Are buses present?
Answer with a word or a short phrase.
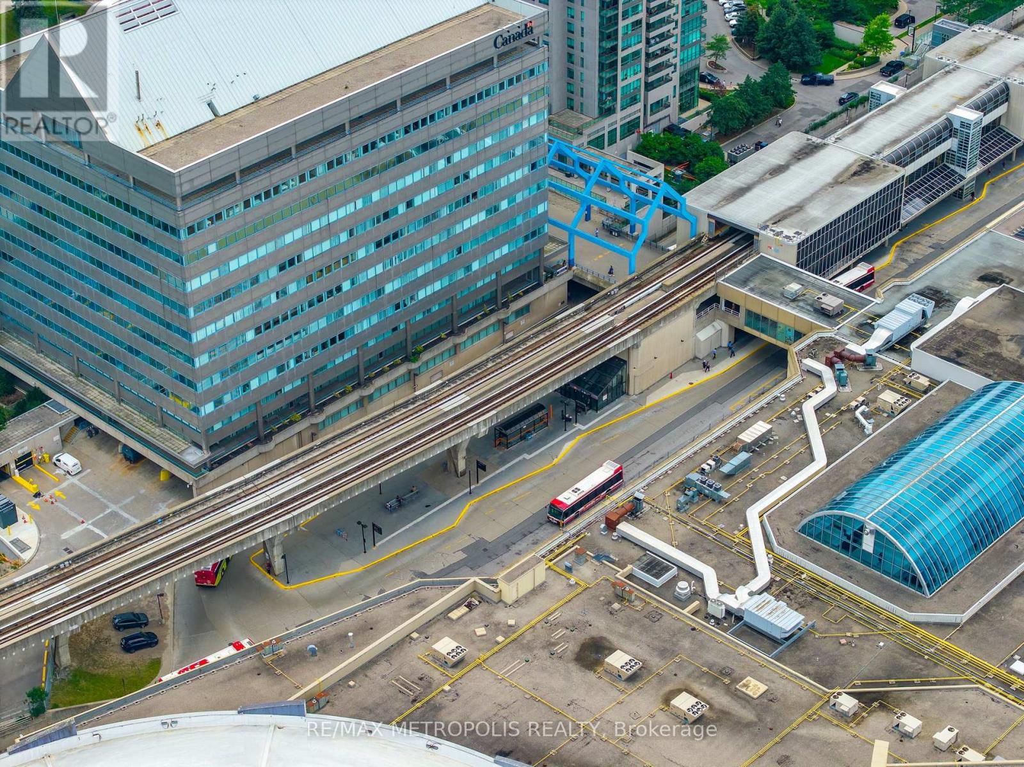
Yes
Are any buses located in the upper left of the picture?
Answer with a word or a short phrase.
No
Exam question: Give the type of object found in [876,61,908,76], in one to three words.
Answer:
vehicle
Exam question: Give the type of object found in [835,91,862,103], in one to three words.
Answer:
vehicle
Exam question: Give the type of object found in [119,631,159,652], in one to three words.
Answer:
car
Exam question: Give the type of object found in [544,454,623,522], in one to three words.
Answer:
bus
